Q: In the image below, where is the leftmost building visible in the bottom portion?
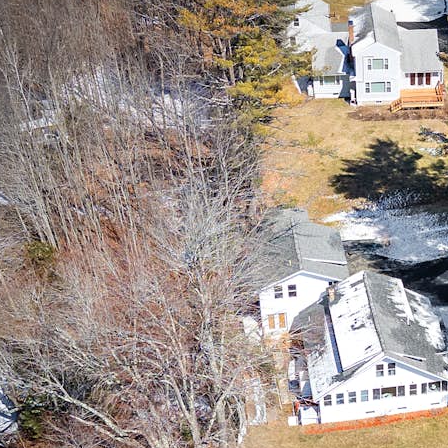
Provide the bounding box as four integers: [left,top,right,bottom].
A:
[253,203,349,340]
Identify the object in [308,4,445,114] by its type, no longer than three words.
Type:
house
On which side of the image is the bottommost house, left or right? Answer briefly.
right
